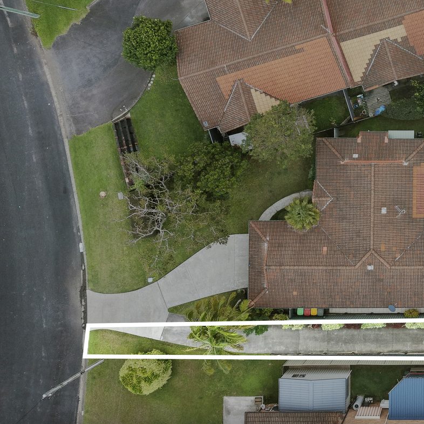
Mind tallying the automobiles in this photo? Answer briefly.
0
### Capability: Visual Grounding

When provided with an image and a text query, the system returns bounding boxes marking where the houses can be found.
[244,405,424,424]
[248,131,424,309]
[174,0,424,134]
